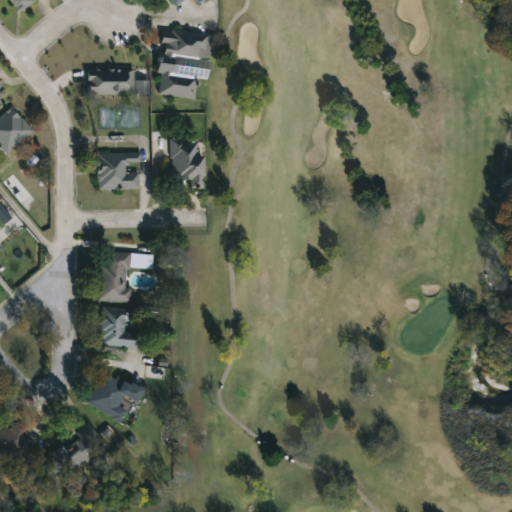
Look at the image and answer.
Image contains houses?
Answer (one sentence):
Yes, looking at the shot, I can spot a house.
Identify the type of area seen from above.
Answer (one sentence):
The area seen from above is a golf course.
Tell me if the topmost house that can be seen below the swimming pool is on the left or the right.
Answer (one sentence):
It is on the left.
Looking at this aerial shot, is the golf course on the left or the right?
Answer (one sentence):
The golf course sits on the right side.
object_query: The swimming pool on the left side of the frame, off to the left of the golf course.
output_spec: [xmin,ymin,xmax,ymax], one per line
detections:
[128,270,158,290]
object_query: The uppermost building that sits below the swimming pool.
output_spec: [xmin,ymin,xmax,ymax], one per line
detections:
[100,307,137,348]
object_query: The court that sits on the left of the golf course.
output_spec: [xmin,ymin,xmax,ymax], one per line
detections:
[99,107,140,129]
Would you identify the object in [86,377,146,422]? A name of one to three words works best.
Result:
house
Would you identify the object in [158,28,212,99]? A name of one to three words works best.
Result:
house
